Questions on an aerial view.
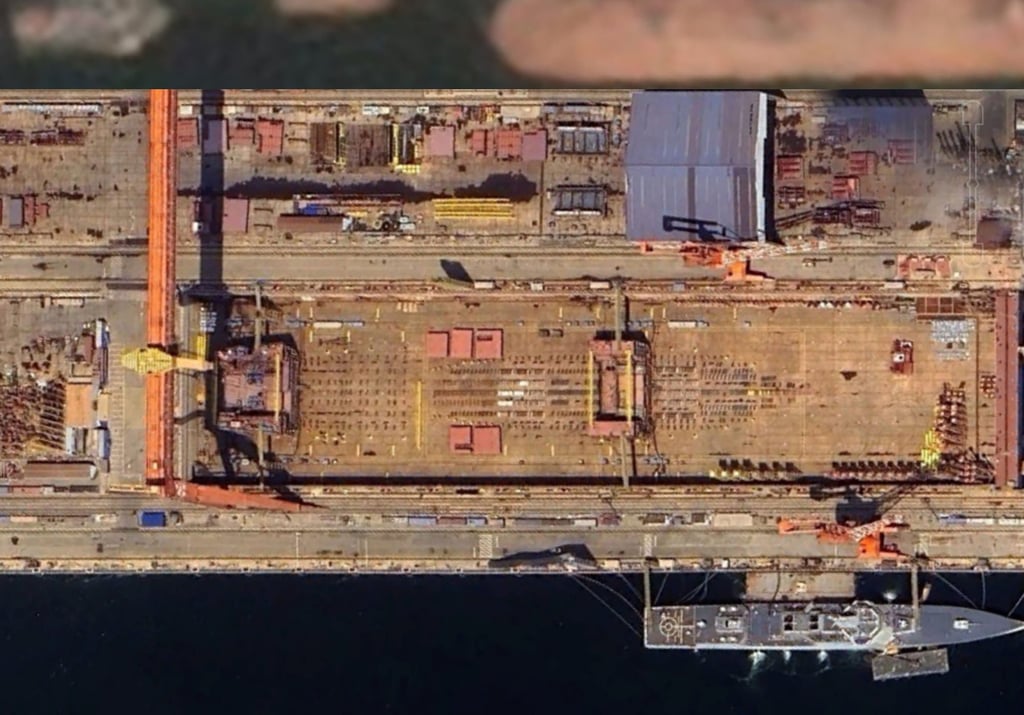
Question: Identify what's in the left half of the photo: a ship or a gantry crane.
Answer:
gantry crane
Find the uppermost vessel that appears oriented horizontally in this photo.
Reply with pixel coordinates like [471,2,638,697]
[747,574,859,598]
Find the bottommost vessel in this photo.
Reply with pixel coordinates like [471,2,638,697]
[873,649,950,681]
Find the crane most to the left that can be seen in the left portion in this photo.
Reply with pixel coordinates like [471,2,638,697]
[121,89,324,510]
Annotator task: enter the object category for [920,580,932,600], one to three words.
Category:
boat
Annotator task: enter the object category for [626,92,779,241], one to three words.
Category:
shed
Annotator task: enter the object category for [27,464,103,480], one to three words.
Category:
shed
